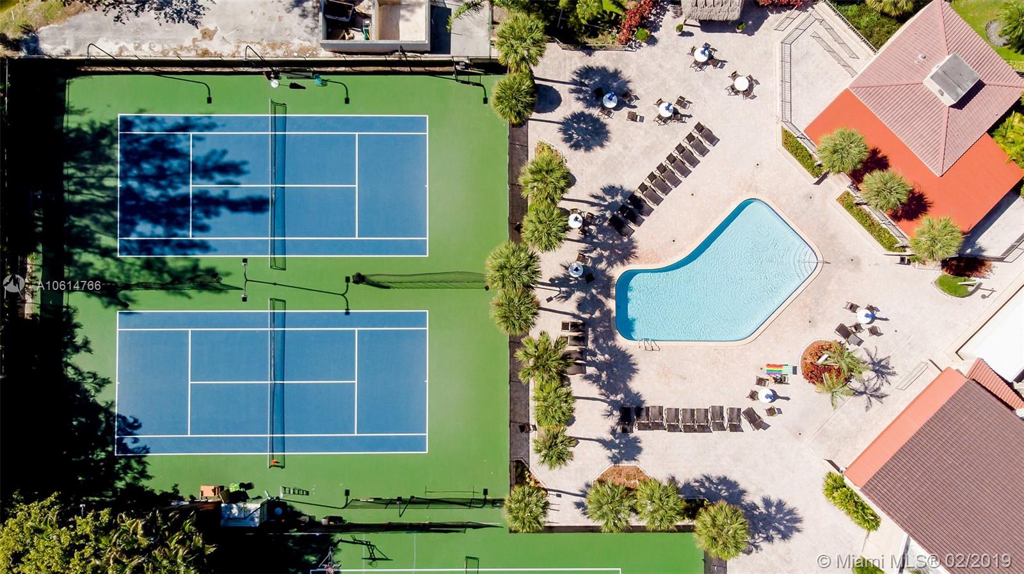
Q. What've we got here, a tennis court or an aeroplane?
tennis court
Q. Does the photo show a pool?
Yes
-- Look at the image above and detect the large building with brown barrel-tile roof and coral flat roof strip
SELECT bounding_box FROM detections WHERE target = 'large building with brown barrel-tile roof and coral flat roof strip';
[842,367,1024,574]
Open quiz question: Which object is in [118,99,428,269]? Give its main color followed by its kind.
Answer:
blue tennis court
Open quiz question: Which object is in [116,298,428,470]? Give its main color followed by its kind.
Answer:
blue tennis court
